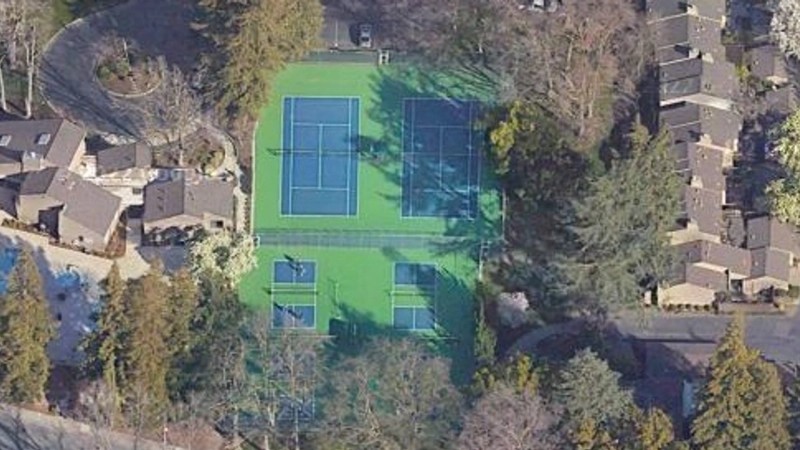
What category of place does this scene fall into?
residential area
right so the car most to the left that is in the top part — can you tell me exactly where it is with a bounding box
[358,27,373,51]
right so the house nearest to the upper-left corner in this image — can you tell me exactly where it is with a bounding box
[0,119,88,183]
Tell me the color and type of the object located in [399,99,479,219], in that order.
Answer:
blue tennis court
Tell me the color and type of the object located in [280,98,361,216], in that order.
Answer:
blue tennis court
